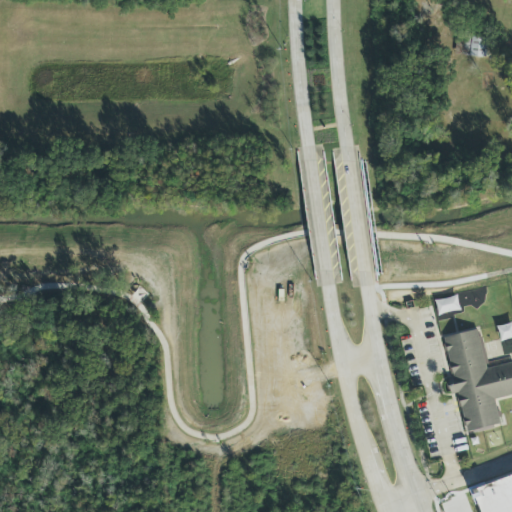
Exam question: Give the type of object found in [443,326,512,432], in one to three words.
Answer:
building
